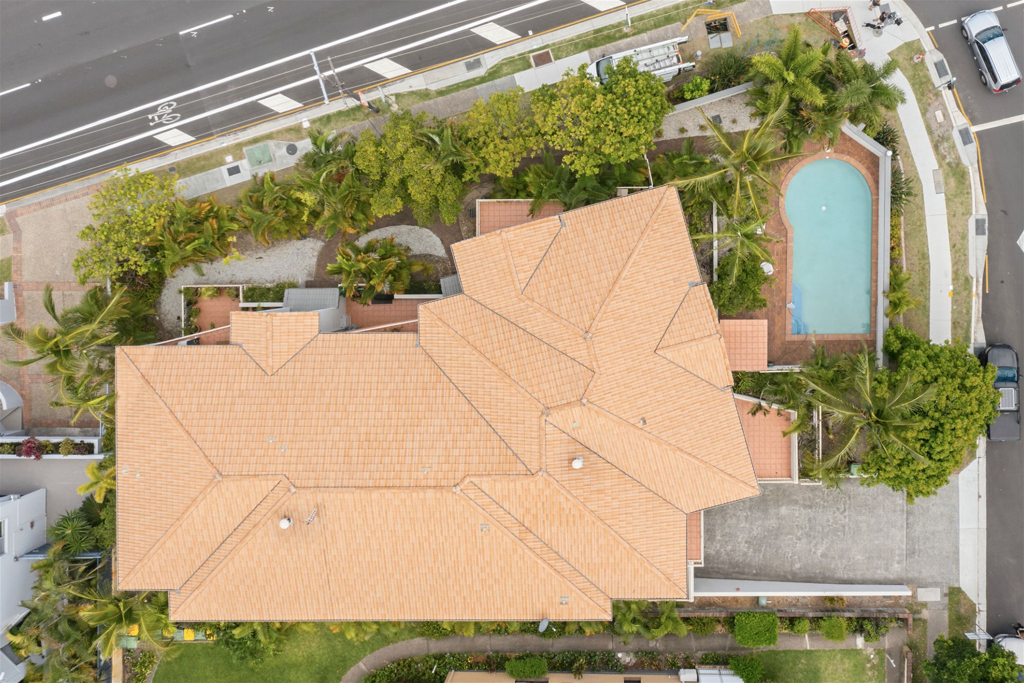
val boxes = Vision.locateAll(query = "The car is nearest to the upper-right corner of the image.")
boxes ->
[958,5,1024,100]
